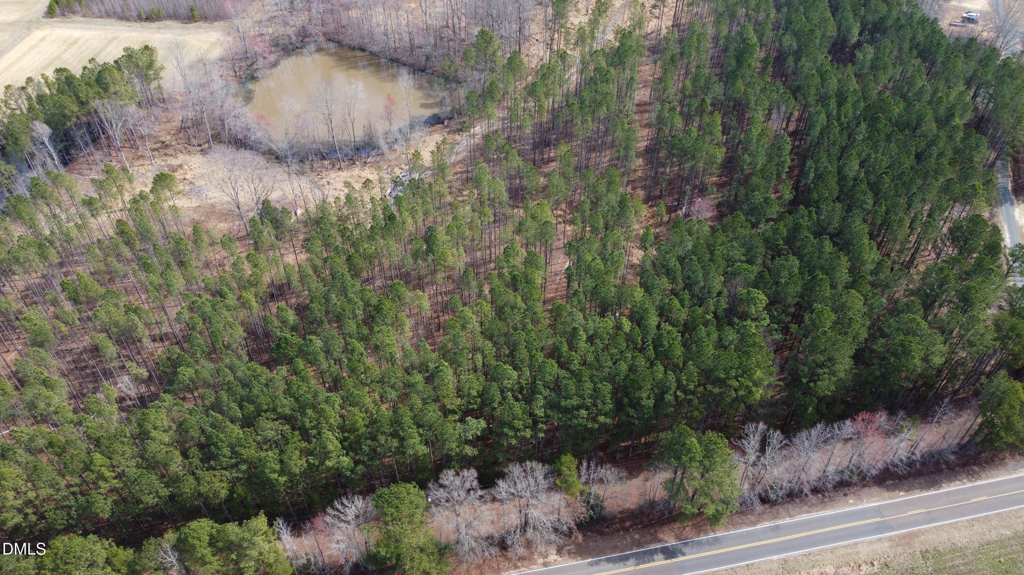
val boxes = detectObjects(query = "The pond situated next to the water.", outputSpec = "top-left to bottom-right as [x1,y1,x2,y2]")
[243,44,454,165]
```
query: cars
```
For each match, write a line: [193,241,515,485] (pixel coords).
[963,8,977,15]
[963,13,982,21]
